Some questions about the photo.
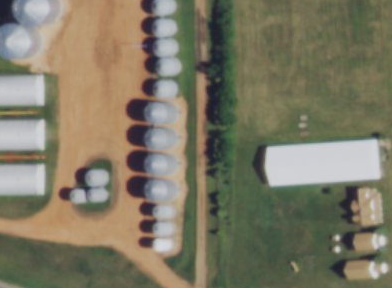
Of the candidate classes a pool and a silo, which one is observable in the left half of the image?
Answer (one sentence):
The feature located in the left half of the image is a silo.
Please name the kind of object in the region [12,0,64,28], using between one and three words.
silo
